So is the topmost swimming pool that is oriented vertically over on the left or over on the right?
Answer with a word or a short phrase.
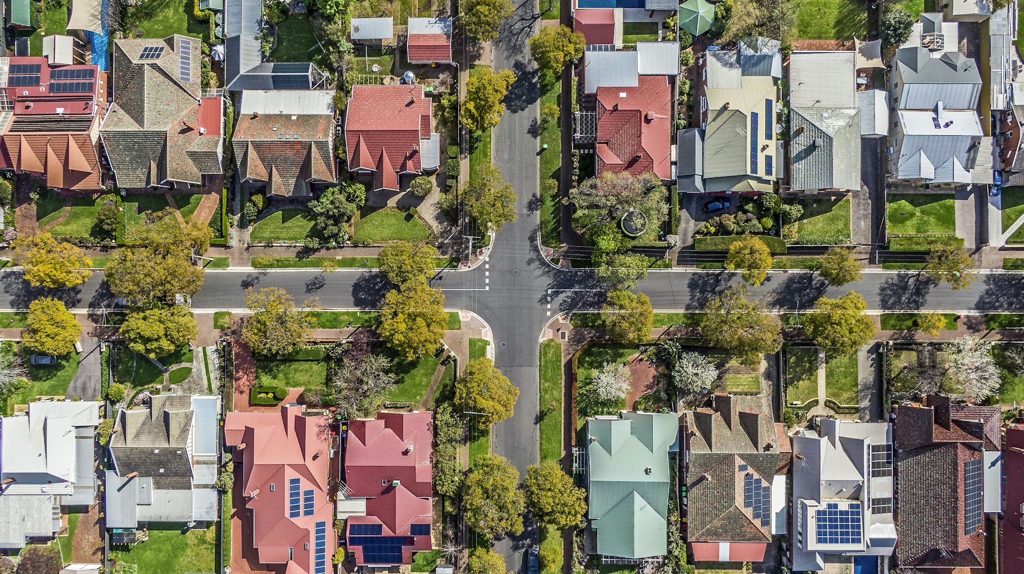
left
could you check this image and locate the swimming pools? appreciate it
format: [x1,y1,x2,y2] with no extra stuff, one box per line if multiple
[577,0,644,8]
[854,556,879,574]
[82,0,110,72]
